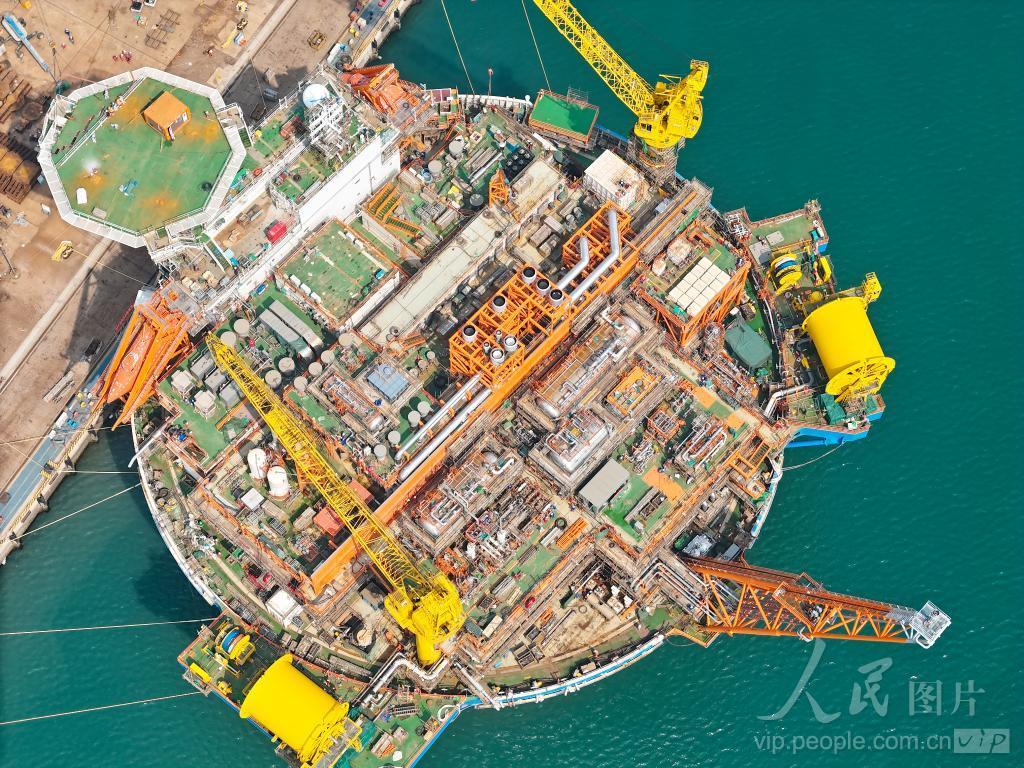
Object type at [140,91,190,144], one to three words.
building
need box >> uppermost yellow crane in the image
[534,0,712,203]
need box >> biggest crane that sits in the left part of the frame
[200,321,467,644]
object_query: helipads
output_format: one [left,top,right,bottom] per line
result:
[35,65,257,264]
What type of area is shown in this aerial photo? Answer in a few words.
port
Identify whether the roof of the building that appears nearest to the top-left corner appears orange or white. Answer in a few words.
orange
